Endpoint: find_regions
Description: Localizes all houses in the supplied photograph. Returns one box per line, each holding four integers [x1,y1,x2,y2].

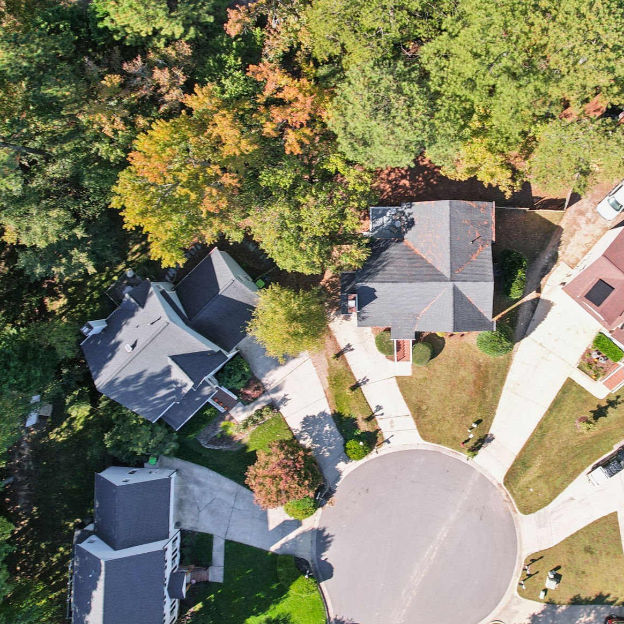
[80,247,269,432]
[71,469,209,624]
[554,225,624,395]
[341,199,497,363]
